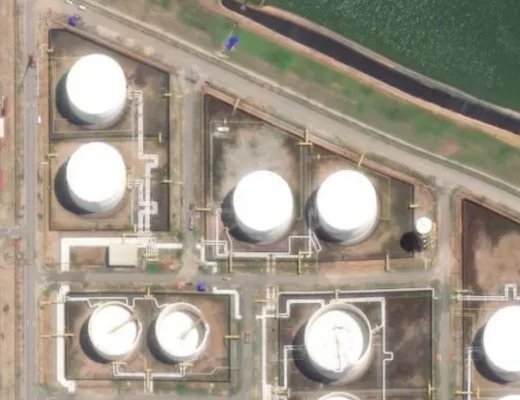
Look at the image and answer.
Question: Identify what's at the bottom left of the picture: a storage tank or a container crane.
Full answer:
Looking at the bottom left of the picture, you will find a storage tank.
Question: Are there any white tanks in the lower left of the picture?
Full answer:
Yes, there is a white tank in the lower left of the picture.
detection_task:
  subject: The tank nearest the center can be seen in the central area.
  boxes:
[232,171,298,246]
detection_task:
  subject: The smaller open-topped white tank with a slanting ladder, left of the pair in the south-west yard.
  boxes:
[87,301,144,363]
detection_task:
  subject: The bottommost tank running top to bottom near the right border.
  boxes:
[481,305,520,387]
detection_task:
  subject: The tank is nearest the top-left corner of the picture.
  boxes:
[66,55,131,129]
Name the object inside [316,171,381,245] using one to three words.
storage tank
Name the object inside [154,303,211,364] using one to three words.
storage tank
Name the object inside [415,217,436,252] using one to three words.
water tower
